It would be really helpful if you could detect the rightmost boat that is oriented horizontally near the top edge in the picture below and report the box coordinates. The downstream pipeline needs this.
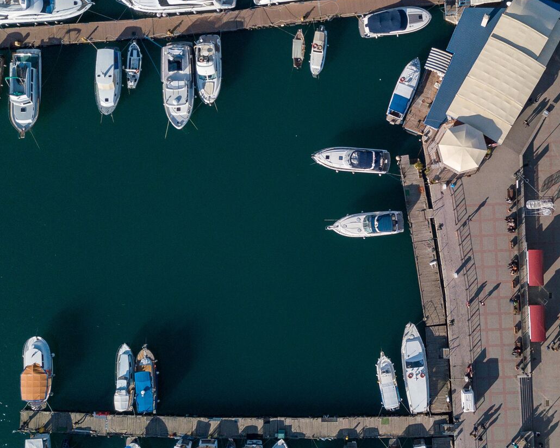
[355,4,440,38]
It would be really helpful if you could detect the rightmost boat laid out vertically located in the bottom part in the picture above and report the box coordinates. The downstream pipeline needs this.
[401,318,431,417]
